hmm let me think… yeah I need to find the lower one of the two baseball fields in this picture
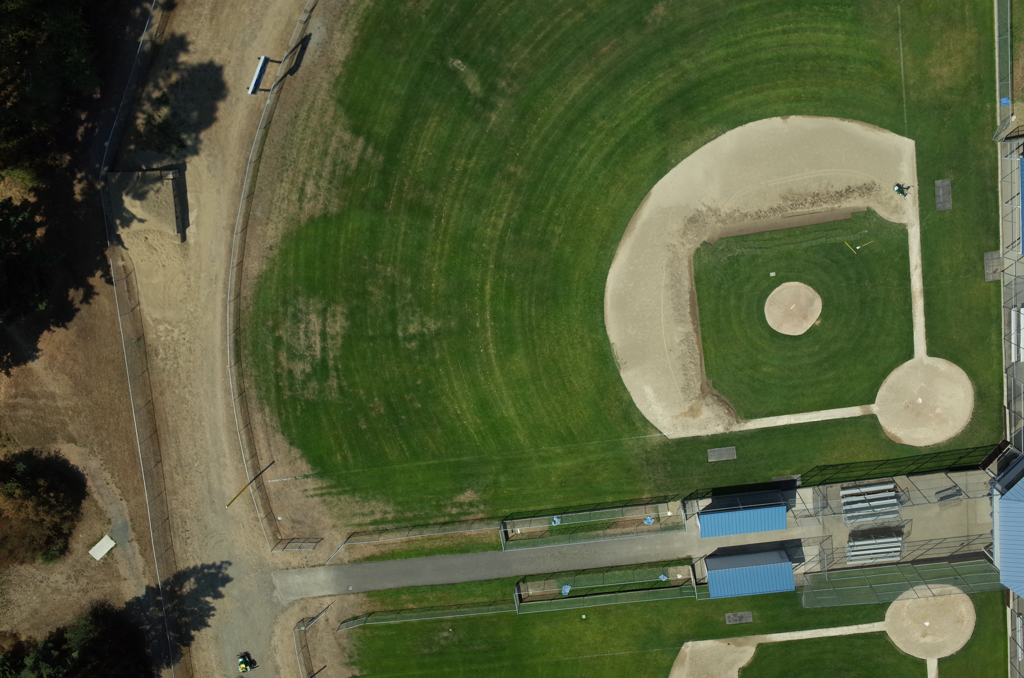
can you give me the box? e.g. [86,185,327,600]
[300,567,1008,678]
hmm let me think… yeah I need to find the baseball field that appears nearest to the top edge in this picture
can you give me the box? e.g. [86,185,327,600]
[237,0,1004,545]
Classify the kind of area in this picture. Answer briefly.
sports ground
